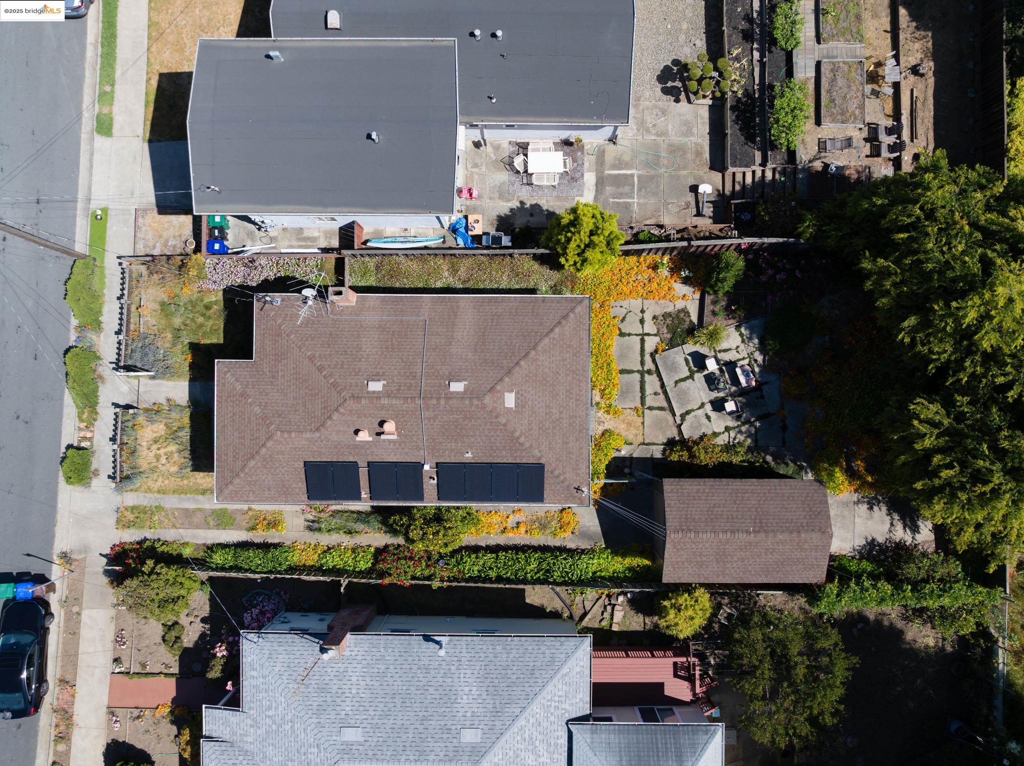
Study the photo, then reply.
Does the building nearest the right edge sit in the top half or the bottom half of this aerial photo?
bottom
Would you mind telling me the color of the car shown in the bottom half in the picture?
black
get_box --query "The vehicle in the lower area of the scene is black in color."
[0,600,55,726]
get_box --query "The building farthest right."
[650,476,839,583]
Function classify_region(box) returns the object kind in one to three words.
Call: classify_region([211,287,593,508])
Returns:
house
